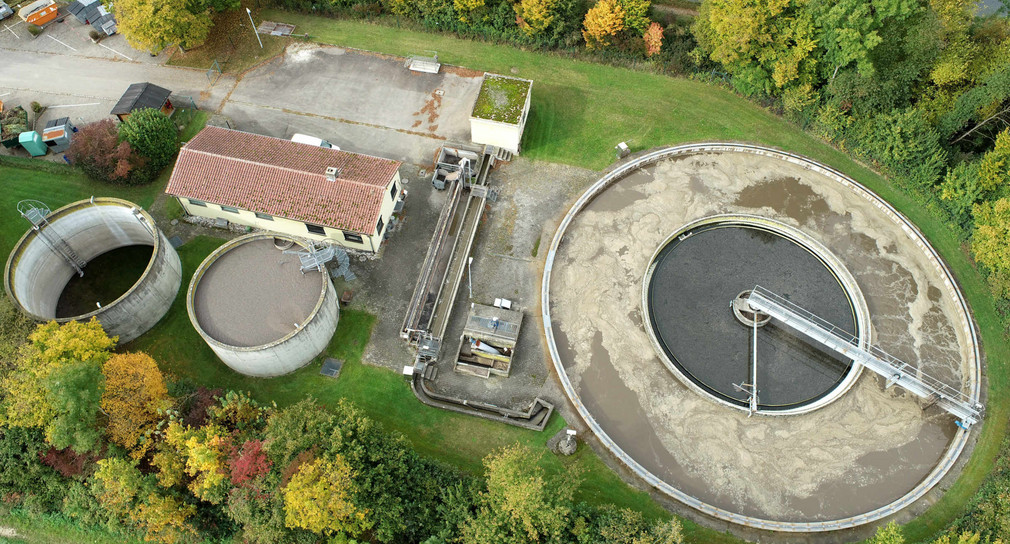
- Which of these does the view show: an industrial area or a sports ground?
industrial area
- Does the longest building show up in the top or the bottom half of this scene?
top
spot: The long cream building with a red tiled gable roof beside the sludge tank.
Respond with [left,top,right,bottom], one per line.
[165,124,401,253]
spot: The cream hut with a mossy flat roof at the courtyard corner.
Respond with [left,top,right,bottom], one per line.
[469,72,534,153]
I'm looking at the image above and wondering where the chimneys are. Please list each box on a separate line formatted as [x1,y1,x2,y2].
[321,168,339,183]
